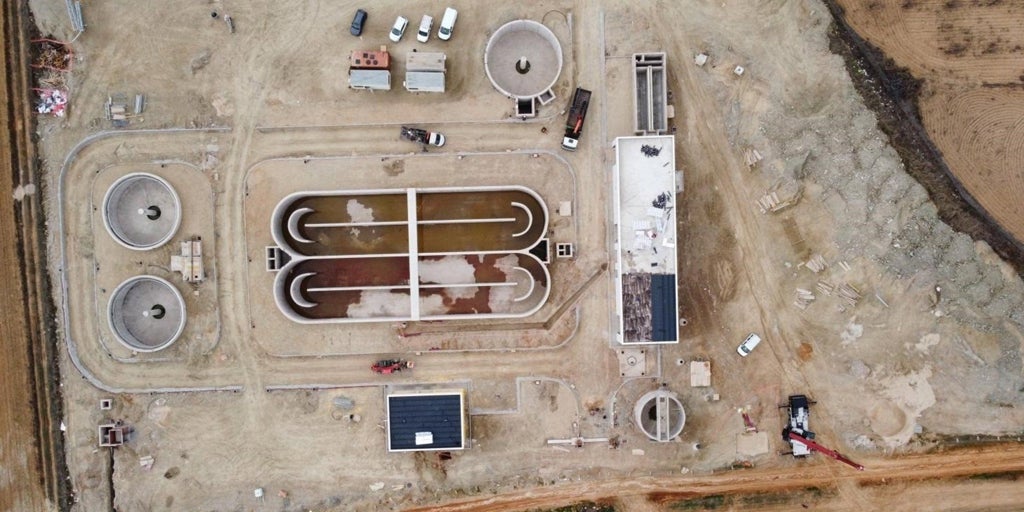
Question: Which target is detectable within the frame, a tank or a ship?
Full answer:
I can see a tank in this picture.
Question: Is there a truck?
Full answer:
Yes, there's a truck down there.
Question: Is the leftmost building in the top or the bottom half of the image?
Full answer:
The leftmost building sits in the bottom half of the picture.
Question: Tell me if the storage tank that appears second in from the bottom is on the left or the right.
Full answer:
The storage tank that appears second in from the bottom is on the left side of the image.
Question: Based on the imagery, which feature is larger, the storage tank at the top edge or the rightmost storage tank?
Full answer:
It is the storage tank at the top edge that is larger, not the rightmost storage tank.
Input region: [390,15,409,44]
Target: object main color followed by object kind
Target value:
white car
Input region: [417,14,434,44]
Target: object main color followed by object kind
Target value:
white car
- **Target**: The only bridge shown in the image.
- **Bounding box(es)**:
[407,187,419,322]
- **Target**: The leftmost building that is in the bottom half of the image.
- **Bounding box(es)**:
[388,388,467,452]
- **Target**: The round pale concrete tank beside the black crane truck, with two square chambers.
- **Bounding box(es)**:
[484,20,563,98]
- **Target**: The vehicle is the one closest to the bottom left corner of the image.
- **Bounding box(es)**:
[373,358,411,375]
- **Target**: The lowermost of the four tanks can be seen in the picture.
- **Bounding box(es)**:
[636,391,685,441]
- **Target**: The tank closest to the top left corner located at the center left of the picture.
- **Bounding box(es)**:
[103,172,183,250]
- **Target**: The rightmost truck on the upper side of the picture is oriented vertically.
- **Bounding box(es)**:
[560,87,592,154]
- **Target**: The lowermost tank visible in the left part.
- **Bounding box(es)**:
[108,275,187,353]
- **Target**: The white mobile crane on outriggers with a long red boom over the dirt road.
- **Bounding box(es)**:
[775,393,865,470]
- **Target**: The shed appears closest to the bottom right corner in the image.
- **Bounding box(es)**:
[688,359,711,387]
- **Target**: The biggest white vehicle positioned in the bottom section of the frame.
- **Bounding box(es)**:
[736,331,762,357]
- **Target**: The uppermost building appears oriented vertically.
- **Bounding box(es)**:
[611,135,681,344]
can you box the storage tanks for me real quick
[484,20,563,98]
[108,275,187,353]
[103,172,183,250]
[636,391,685,441]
